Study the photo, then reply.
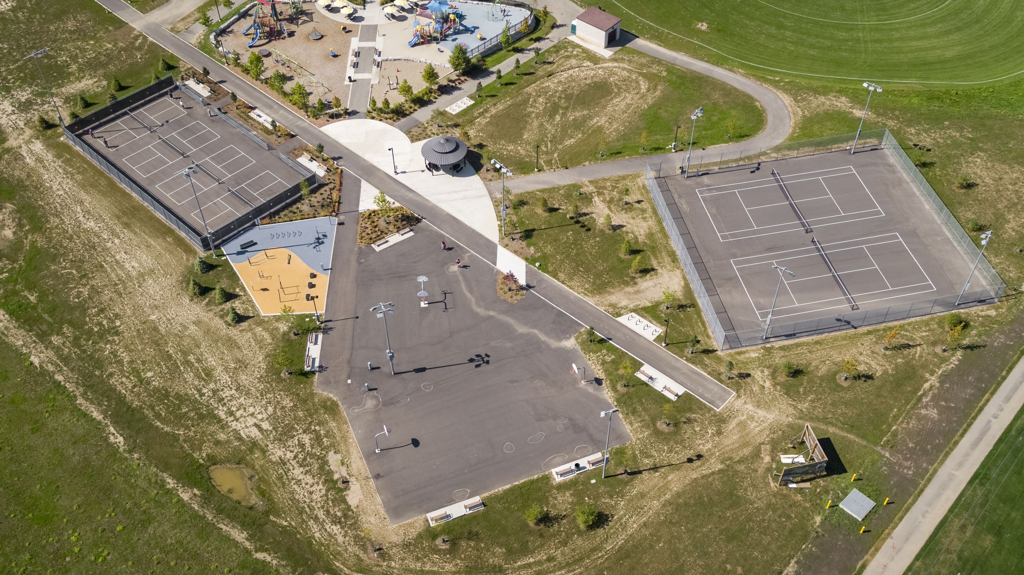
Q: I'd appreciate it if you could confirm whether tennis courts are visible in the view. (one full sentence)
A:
Yes, a tennis court can be made out from above.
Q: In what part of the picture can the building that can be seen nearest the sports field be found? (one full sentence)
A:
You can find the building that can be seen nearest the sports field in the top area of the picture.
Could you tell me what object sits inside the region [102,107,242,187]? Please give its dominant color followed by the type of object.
gray sports court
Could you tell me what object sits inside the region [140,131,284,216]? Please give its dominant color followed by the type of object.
gray sports court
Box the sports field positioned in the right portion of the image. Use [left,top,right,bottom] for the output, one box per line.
[605,0,1024,89]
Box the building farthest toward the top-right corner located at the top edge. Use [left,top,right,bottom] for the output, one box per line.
[575,3,624,48]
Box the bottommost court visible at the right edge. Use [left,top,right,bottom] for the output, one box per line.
[679,216,1001,352]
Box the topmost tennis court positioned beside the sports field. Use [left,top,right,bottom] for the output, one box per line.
[645,143,939,257]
